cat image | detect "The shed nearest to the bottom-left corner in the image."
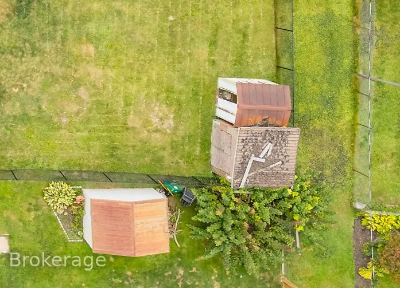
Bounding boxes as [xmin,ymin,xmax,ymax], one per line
[84,188,169,262]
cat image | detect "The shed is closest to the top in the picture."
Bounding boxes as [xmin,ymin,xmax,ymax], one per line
[216,77,297,128]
